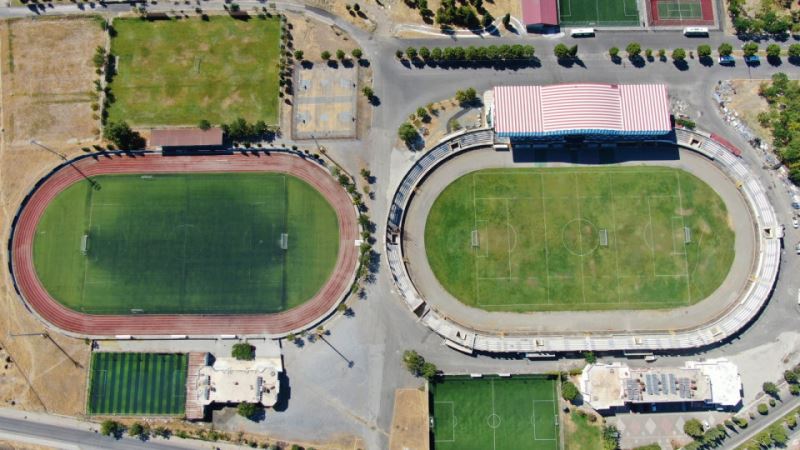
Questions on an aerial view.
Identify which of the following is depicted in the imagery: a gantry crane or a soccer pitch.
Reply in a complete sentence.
Visible in the photo is a soccer pitch.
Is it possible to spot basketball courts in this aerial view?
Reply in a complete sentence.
Yes, I can see a basketball court in this picture.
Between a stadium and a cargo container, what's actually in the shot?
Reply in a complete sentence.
The one in the frame is a stadium.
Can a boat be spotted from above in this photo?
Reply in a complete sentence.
No, no boat is visible in the scene.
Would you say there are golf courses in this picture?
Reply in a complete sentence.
No, no golf course can be seen from above.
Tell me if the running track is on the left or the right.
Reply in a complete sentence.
The running track is on the left side of the image.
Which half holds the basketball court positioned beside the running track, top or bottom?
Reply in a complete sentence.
It is in the top half that the basketball court positioned beside the running track appears.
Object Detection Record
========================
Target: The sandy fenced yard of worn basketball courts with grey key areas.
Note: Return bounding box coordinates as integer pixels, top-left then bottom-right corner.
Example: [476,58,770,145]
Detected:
[293,66,356,138]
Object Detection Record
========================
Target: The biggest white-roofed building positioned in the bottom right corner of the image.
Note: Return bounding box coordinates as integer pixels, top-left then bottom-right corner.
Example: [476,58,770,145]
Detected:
[574,357,742,409]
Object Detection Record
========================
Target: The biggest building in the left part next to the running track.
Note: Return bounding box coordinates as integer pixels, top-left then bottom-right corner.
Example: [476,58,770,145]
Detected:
[197,356,287,405]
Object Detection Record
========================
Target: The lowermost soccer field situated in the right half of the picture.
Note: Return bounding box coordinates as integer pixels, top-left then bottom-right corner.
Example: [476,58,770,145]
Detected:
[431,376,560,450]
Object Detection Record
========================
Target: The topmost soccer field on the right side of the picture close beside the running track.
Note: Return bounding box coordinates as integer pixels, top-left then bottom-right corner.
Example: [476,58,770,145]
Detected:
[425,166,735,312]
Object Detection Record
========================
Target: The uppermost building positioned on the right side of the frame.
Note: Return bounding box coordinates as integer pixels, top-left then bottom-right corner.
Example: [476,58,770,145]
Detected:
[521,0,559,28]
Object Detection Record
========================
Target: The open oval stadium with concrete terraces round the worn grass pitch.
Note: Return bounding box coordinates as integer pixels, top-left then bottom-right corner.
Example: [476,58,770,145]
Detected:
[385,126,784,352]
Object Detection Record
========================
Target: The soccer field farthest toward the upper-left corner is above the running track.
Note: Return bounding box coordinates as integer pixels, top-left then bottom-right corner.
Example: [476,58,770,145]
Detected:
[106,16,280,124]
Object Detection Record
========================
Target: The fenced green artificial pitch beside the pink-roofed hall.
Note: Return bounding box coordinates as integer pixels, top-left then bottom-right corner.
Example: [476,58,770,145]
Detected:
[559,0,640,26]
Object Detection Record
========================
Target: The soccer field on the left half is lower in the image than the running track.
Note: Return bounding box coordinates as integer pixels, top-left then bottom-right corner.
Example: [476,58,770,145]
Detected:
[89,352,188,414]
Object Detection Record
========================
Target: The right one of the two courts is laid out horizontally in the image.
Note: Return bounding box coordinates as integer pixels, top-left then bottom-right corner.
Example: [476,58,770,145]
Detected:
[646,0,716,25]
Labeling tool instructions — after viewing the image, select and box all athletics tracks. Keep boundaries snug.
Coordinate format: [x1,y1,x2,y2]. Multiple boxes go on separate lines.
[9,151,363,338]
